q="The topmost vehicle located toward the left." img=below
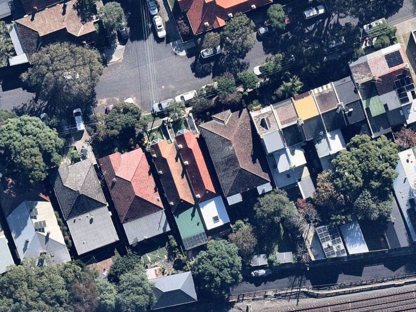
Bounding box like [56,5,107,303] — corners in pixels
[145,0,159,17]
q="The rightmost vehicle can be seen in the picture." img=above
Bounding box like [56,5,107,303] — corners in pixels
[362,16,386,33]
